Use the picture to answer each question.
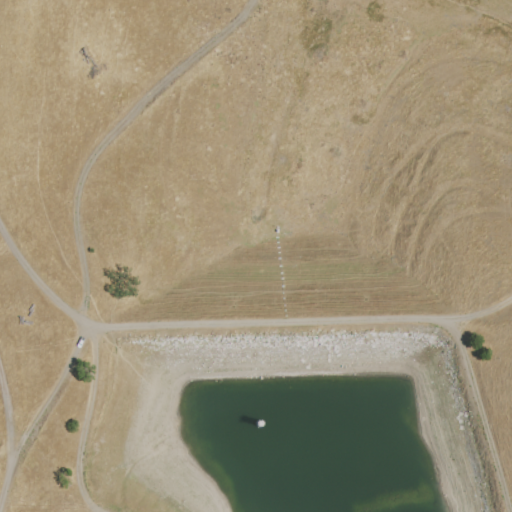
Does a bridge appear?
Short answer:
No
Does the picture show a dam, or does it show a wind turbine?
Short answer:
dam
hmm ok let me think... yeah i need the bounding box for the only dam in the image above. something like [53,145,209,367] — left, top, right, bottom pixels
[118,232,460,382]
